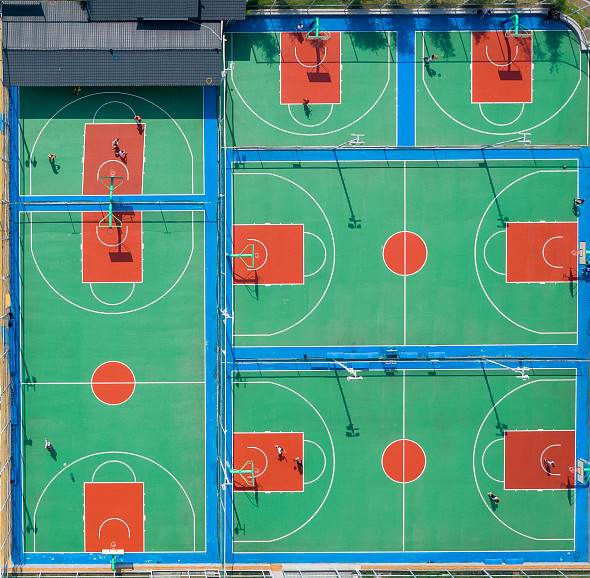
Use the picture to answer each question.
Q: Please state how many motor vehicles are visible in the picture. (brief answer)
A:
0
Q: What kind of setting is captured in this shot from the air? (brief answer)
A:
sports ground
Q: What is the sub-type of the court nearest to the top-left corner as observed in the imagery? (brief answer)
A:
basketball court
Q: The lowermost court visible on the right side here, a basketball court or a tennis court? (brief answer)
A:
basketball court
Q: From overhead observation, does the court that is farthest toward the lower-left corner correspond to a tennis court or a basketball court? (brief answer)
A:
basketball court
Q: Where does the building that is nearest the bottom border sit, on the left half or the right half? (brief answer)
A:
left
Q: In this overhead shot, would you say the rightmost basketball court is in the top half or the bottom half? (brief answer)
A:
top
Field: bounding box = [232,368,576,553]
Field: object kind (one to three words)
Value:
basketball court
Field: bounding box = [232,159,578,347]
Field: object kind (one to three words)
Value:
basketball court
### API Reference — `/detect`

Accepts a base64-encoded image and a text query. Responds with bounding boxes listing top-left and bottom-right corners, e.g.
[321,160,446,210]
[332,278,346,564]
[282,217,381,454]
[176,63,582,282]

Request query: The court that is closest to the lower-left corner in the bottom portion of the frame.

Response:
[19,210,206,553]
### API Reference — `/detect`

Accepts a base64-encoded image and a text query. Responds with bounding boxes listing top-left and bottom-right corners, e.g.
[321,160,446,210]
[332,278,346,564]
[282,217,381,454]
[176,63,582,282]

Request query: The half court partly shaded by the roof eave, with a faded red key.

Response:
[18,85,205,196]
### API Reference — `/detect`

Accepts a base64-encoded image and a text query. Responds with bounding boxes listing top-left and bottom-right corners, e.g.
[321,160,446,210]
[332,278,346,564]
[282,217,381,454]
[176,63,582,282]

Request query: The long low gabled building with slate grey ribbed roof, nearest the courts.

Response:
[0,20,223,86]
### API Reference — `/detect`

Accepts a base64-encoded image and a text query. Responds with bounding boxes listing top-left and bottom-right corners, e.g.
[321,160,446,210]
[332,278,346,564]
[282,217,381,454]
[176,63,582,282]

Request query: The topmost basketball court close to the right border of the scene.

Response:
[415,29,590,148]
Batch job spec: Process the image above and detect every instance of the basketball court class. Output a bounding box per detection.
[18,85,205,196]
[232,159,578,347]
[223,31,398,149]
[232,368,576,553]
[19,210,206,553]
[415,29,590,148]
